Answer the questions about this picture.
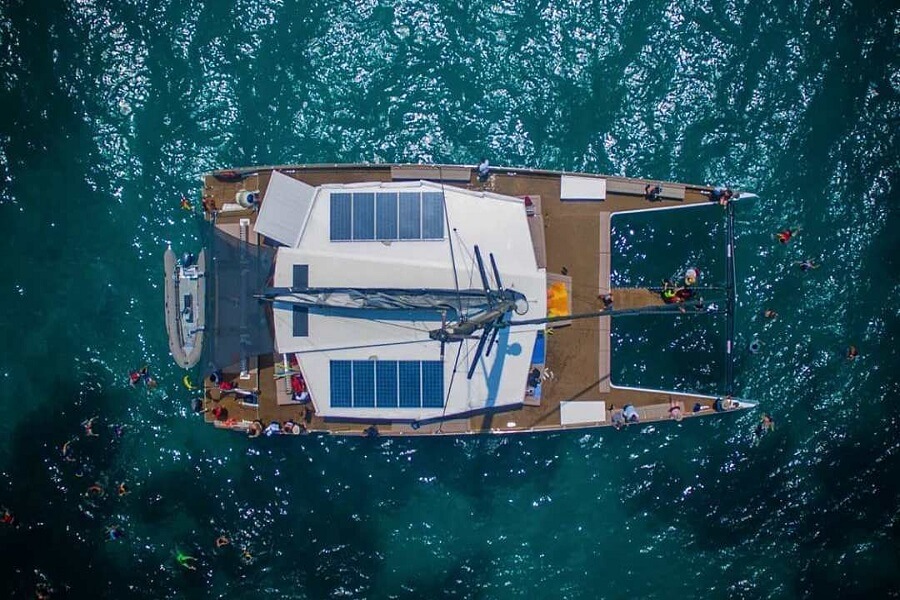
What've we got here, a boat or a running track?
boat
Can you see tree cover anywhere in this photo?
No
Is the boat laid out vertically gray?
Yes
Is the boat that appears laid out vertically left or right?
left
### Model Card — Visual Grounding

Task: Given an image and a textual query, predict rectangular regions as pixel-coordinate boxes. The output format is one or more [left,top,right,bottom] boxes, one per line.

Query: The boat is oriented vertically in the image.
[165,243,205,366]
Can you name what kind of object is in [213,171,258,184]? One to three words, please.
boat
